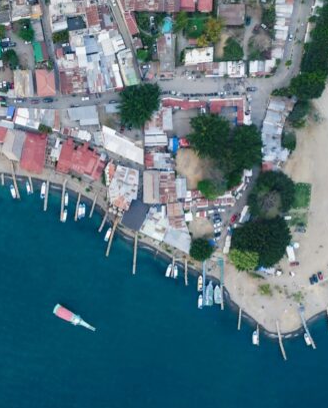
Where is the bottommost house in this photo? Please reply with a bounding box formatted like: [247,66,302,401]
[162,229,191,253]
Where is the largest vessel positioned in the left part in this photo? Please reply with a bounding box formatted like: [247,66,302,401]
[53,305,96,331]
